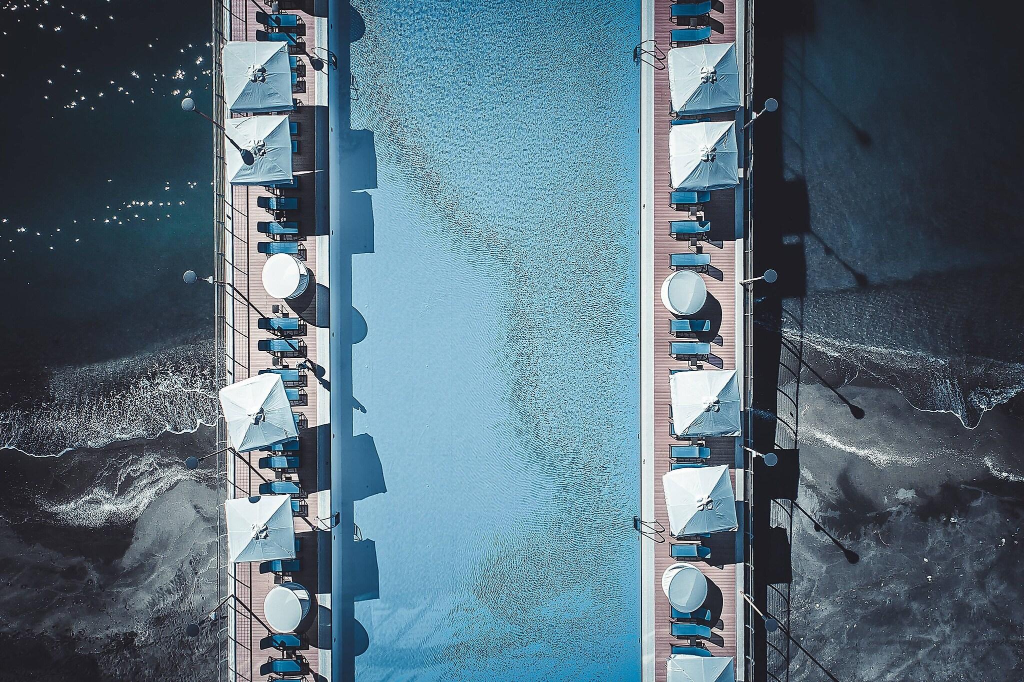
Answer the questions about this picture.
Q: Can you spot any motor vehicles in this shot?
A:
No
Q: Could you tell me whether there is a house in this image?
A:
No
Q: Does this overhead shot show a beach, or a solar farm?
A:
beach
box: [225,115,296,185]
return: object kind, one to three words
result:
umbrella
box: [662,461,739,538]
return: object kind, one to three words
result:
umbrella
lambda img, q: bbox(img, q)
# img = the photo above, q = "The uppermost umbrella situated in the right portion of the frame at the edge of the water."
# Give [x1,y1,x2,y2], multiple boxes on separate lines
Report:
[666,40,742,116]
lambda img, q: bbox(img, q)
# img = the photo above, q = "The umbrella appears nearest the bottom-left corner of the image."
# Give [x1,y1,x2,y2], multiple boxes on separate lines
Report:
[225,490,299,564]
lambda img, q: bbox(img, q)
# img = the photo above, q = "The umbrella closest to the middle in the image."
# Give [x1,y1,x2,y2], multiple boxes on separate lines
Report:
[669,367,742,439]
